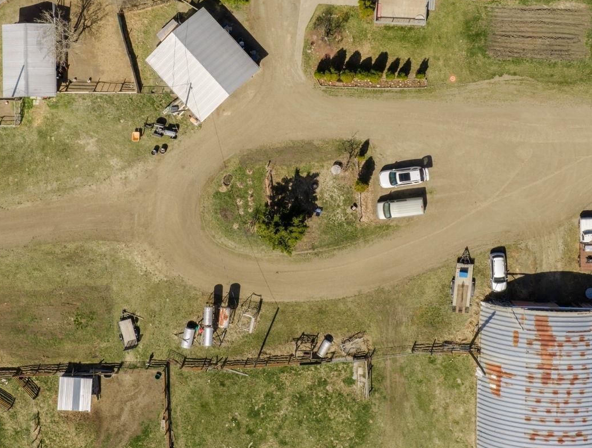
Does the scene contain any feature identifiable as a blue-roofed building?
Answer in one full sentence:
No, I find no blue-roofed building anywhere in the image.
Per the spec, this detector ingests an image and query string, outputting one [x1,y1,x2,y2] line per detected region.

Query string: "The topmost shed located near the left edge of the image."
[2,23,61,97]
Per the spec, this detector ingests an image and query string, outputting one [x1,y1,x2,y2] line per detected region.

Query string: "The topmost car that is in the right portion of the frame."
[380,166,430,190]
